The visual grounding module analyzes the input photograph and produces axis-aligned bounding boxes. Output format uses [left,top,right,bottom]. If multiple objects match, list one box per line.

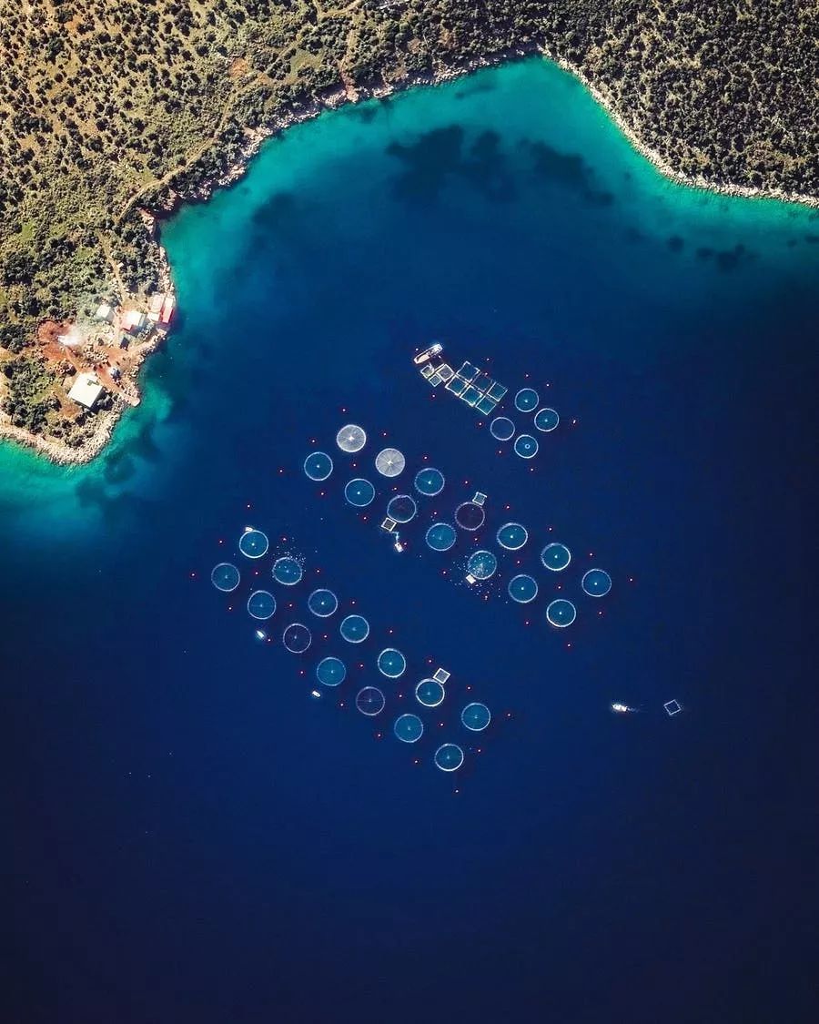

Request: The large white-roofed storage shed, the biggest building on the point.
[68,373,105,408]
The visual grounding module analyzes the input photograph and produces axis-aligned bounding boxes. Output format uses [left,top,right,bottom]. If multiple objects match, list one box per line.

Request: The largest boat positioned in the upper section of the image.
[414,343,444,362]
